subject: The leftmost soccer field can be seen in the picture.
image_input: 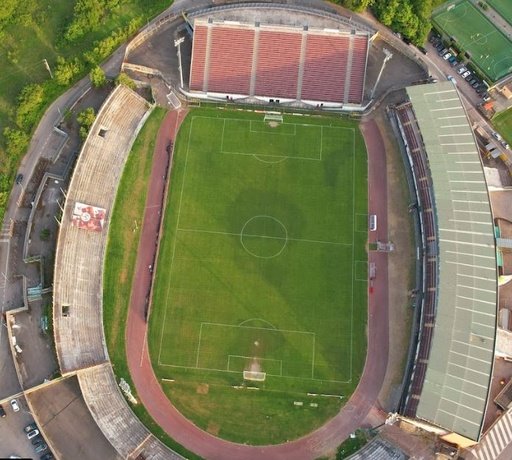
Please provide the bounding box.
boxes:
[149,102,368,446]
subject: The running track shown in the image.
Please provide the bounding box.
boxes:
[124,106,390,460]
